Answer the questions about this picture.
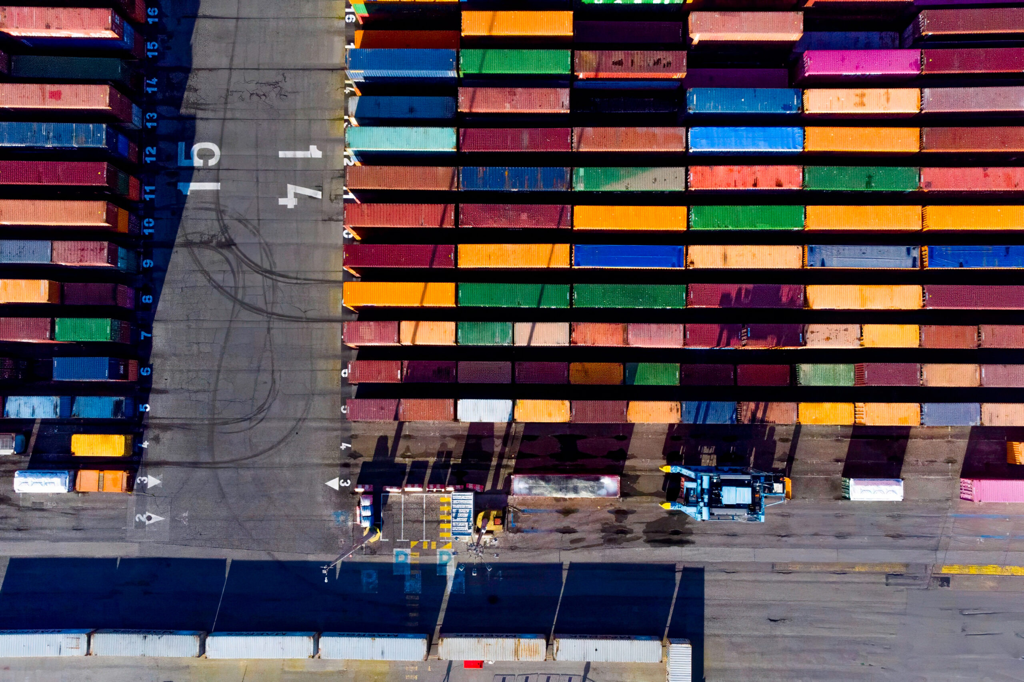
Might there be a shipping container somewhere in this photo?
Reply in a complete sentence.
Yes, the image includes a shipping container.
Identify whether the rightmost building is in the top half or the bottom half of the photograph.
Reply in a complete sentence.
Seen from above, the rightmost building lies in the bottom half of the view.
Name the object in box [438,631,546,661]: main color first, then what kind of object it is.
white shipping container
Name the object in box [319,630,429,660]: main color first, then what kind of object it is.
white shipping container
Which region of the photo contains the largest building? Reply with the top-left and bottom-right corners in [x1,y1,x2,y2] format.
[452,489,475,536]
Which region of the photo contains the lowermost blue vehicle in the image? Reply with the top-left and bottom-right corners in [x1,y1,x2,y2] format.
[658,465,789,522]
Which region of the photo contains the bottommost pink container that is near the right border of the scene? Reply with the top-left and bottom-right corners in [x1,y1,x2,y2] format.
[959,477,1024,502]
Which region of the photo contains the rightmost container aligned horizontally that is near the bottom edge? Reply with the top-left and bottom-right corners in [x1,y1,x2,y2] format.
[553,633,662,663]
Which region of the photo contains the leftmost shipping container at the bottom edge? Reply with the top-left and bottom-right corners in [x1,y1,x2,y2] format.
[0,627,100,656]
